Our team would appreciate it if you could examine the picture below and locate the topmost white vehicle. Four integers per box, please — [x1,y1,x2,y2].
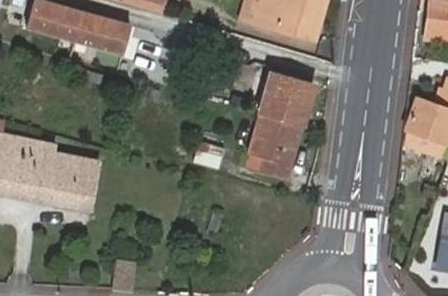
[138,42,163,56]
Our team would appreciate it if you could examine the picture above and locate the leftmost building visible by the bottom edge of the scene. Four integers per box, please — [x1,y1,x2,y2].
[112,260,136,293]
